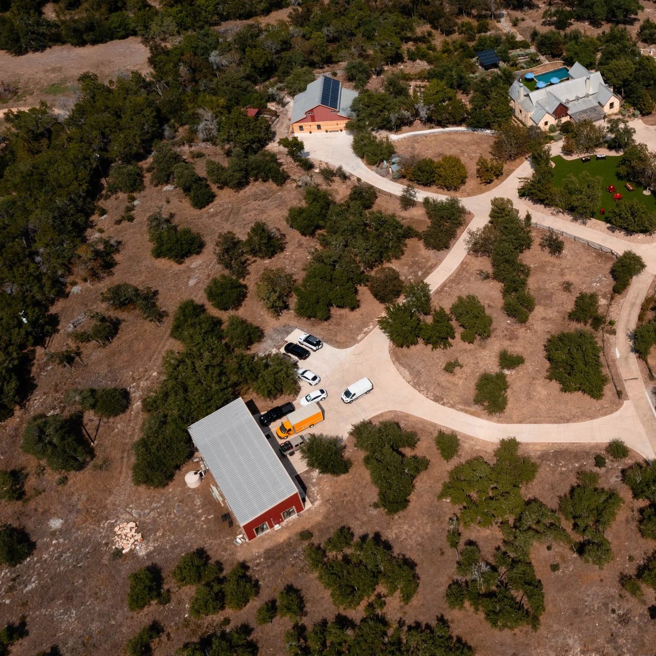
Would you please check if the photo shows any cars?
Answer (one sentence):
Yes, the frame does contain a car.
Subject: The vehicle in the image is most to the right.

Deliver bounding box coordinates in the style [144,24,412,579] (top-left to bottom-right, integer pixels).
[341,375,376,404]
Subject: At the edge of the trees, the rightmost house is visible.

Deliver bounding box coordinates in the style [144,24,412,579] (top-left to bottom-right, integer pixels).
[506,61,621,133]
